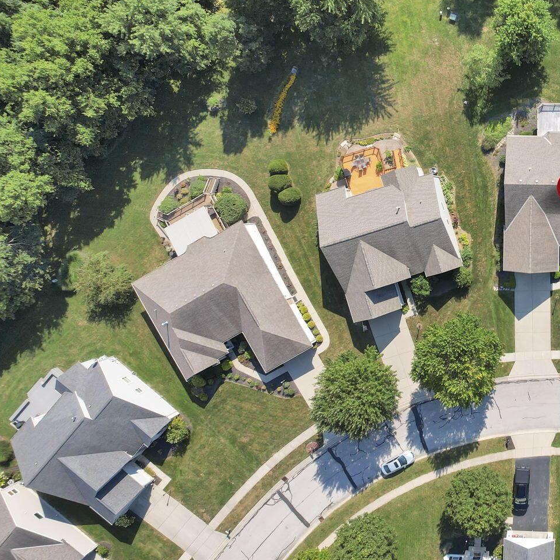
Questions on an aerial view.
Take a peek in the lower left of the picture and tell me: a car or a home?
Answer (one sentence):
Visible in the lower left of the picture is a home.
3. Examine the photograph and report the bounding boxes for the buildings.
[503,131,560,274]
[316,166,464,322]
[131,220,317,380]
[12,358,181,524]
[0,482,96,560]
[446,531,554,560]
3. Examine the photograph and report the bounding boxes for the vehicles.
[379,450,415,478]
[512,467,530,512]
